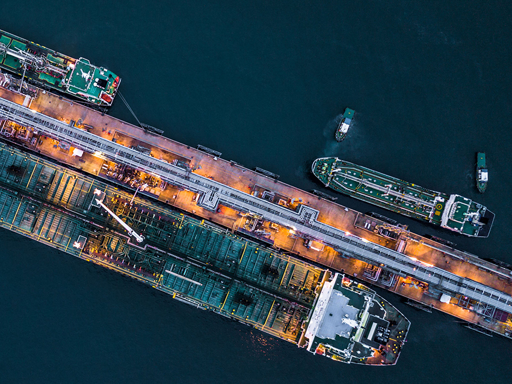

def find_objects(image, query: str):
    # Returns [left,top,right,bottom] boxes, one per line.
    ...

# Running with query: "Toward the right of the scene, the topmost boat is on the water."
[337,107,355,142]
